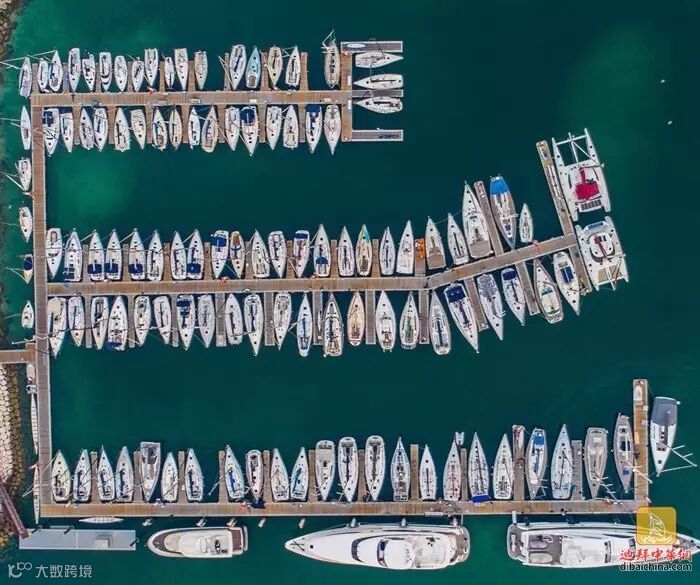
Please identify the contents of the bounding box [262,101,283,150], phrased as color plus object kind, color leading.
white boat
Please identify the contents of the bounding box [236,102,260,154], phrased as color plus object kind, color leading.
white boat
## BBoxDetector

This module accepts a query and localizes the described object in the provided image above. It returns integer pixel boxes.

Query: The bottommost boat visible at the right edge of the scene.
[505,506,700,567]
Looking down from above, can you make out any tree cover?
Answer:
No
